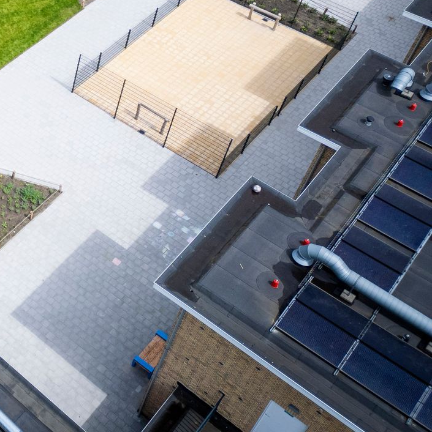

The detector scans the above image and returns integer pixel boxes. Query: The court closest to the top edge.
[74,0,334,173]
